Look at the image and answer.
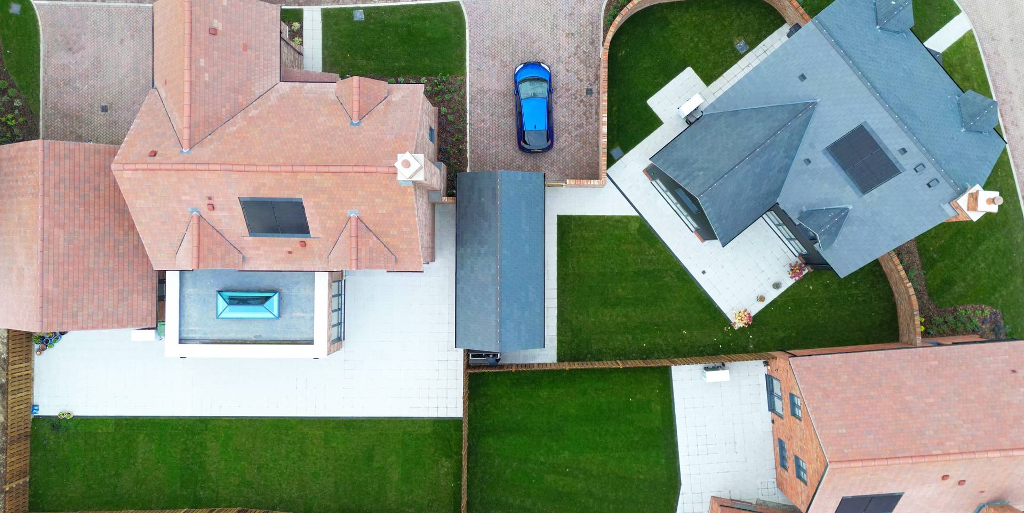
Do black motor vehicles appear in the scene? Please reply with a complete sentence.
No, I can see no black motor vehicle in this picture.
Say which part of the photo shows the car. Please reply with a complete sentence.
You can find the car in the top area of the picture.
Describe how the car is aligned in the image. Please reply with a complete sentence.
In this picture, the car lies from top to bottom.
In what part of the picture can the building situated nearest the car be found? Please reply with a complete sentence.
Look in the center portion of the view to spot the building situated nearest the car.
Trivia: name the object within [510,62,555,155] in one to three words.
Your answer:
car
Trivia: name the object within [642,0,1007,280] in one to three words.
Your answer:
house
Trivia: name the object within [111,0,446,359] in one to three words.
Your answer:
house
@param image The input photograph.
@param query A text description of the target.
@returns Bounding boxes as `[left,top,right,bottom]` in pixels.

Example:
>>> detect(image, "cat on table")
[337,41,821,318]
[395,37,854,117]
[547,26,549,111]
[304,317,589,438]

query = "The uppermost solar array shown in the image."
[822,120,906,198]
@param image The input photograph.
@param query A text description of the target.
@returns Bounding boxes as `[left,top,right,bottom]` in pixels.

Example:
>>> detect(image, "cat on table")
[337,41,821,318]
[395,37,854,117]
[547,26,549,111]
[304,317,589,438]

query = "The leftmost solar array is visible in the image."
[238,197,311,238]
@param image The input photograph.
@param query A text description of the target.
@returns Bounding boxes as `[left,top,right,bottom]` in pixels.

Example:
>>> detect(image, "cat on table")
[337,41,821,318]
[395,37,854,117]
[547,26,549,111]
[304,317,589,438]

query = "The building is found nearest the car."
[454,170,546,351]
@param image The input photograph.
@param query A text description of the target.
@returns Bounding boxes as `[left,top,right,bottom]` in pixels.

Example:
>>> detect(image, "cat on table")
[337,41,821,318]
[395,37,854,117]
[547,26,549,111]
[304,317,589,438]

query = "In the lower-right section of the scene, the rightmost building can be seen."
[766,334,1024,513]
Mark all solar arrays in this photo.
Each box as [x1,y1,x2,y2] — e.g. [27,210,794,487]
[822,120,906,198]
[238,197,311,238]
[836,494,904,513]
